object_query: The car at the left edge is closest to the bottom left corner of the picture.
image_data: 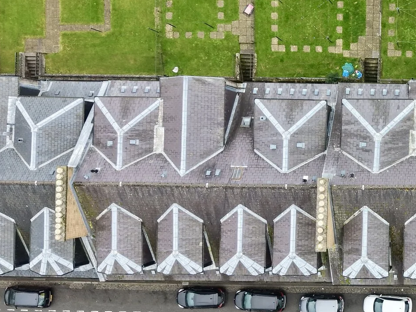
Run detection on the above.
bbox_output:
[5,284,56,310]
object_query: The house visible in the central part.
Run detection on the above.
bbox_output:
[75,76,340,288]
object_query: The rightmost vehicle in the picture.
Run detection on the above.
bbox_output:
[363,292,413,312]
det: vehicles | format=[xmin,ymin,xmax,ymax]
[300,293,345,312]
[5,284,56,310]
[363,292,413,312]
[177,286,227,311]
[234,287,287,312]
